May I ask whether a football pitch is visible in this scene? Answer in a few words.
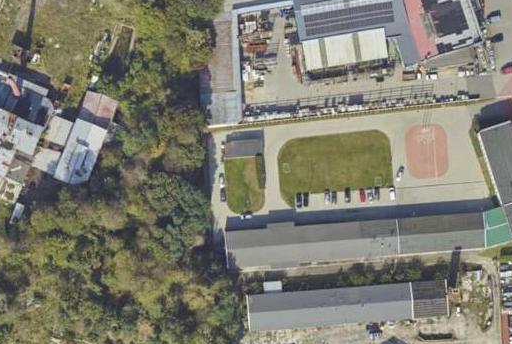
Yes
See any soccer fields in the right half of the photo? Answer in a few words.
Yes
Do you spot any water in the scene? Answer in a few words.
No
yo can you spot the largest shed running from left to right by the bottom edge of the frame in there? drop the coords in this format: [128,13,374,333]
[248,282,414,331]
